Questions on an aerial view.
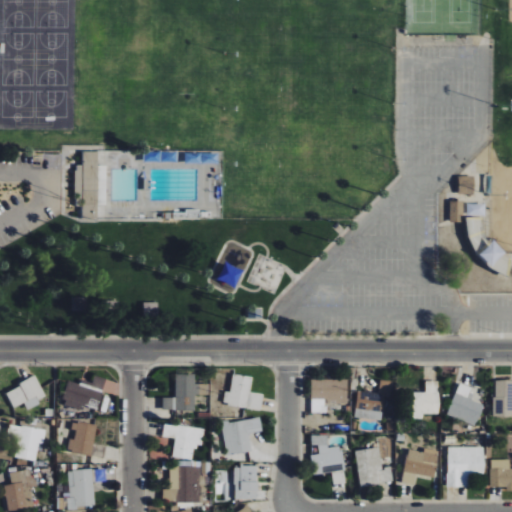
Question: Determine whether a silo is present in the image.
No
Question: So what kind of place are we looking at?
sports ground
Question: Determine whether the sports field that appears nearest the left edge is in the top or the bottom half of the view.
top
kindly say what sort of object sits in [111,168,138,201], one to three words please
swimming pool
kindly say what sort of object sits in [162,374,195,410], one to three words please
house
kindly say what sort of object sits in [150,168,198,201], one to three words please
swimming pool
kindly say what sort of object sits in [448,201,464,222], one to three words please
shed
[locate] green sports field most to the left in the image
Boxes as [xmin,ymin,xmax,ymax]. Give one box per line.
[62,0,404,224]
